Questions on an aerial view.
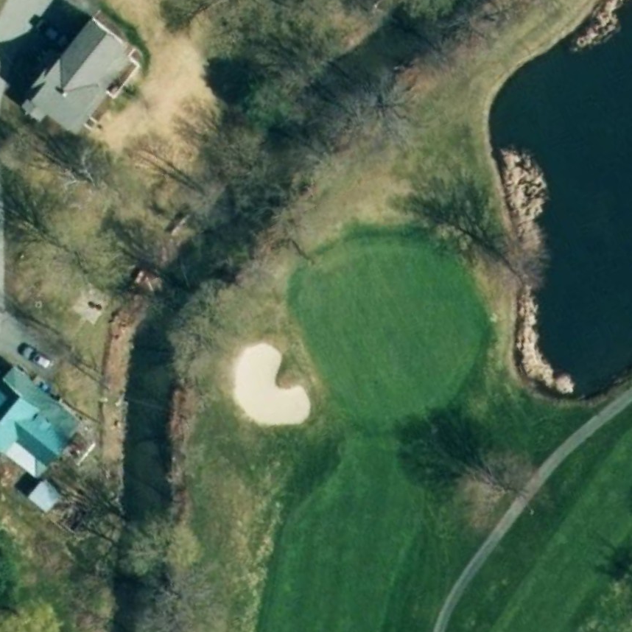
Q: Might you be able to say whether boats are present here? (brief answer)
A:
No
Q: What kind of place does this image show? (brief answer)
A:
golf course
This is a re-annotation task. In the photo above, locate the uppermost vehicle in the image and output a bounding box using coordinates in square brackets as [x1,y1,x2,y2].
[15,340,53,370]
